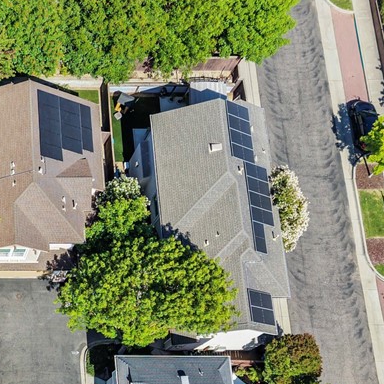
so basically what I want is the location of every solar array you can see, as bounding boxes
[249,289,276,325]
[228,100,275,253]
[38,88,94,160]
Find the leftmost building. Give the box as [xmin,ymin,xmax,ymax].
[0,79,106,283]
